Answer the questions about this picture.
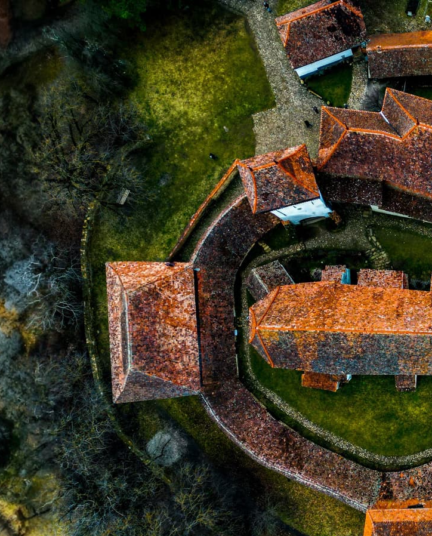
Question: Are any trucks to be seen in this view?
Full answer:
No, no truck is visible in the scene.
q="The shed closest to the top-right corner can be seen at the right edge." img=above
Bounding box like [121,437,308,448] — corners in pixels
[367,31,432,85]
